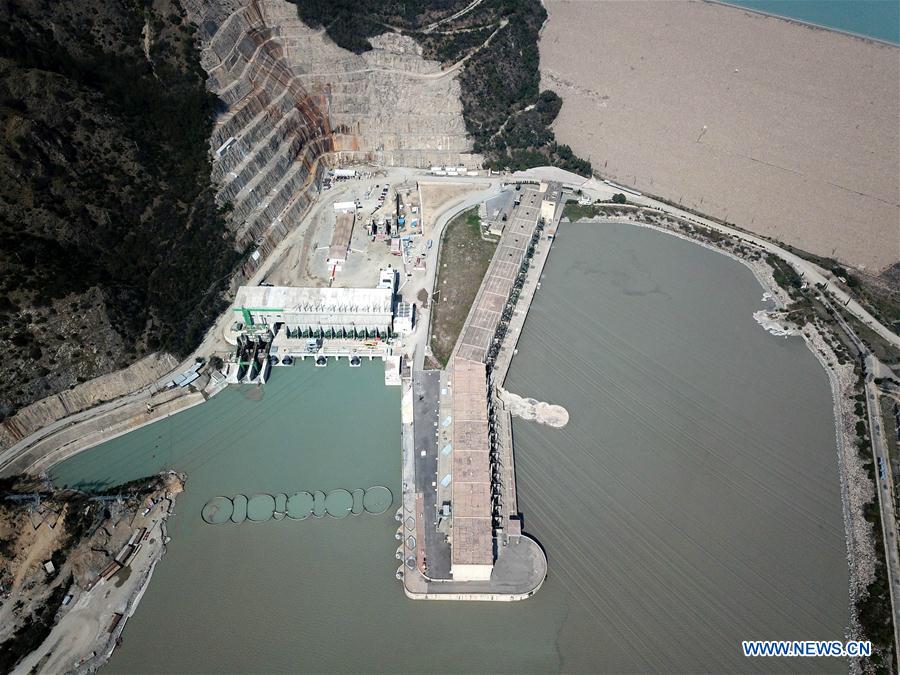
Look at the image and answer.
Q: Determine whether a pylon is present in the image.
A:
Yes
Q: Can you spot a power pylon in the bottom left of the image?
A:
Yes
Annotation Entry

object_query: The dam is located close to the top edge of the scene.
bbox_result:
[540,0,900,265]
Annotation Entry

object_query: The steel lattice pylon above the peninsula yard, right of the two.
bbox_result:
[81,501,130,530]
